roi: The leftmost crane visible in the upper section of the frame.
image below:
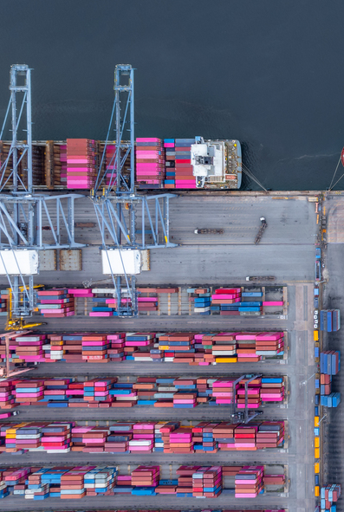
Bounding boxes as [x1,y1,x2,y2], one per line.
[0,63,99,320]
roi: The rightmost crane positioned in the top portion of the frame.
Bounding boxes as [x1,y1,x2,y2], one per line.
[83,63,192,319]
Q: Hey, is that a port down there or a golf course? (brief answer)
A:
port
